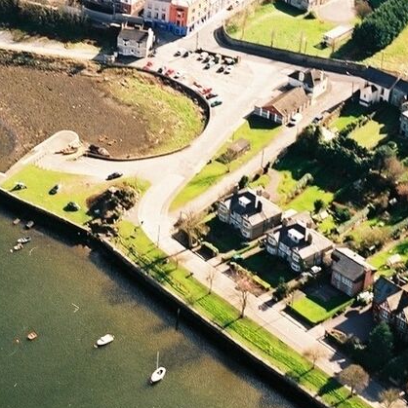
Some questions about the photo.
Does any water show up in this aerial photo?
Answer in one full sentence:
Yes, there is water in the image.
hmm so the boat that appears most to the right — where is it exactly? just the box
[151,368,165,383]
